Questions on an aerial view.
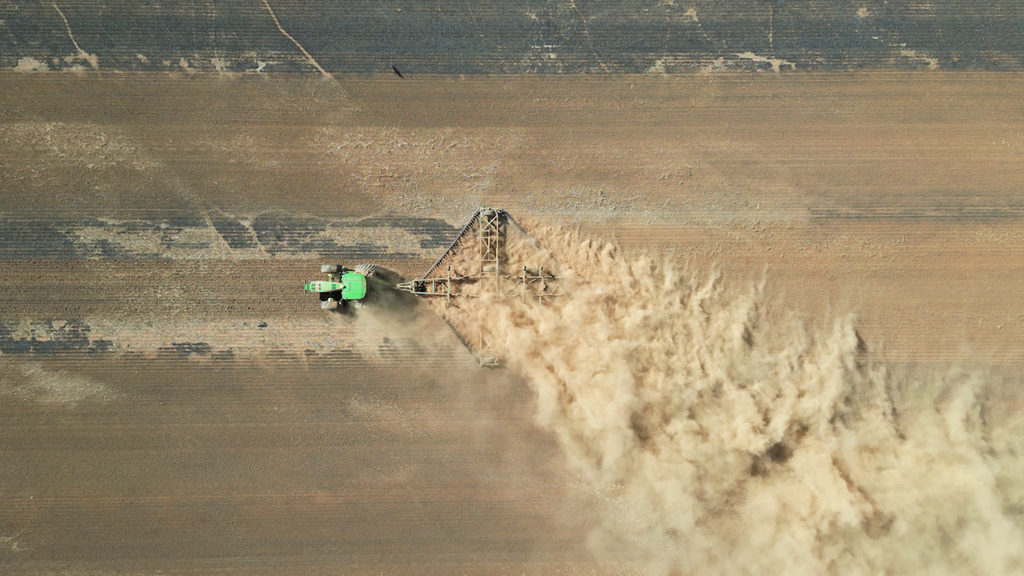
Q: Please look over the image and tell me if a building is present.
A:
No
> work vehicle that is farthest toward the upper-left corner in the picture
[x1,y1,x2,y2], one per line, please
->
[304,259,386,311]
